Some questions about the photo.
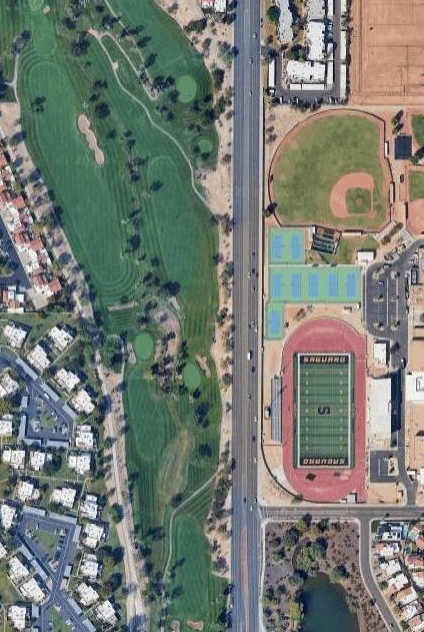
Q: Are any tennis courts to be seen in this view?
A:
Yes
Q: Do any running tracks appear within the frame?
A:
Yes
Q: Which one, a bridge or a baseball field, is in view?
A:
baseball field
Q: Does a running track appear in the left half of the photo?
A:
No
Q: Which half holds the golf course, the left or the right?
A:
left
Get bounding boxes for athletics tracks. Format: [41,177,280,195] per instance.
[283,317,366,502]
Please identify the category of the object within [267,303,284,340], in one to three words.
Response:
tennis court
